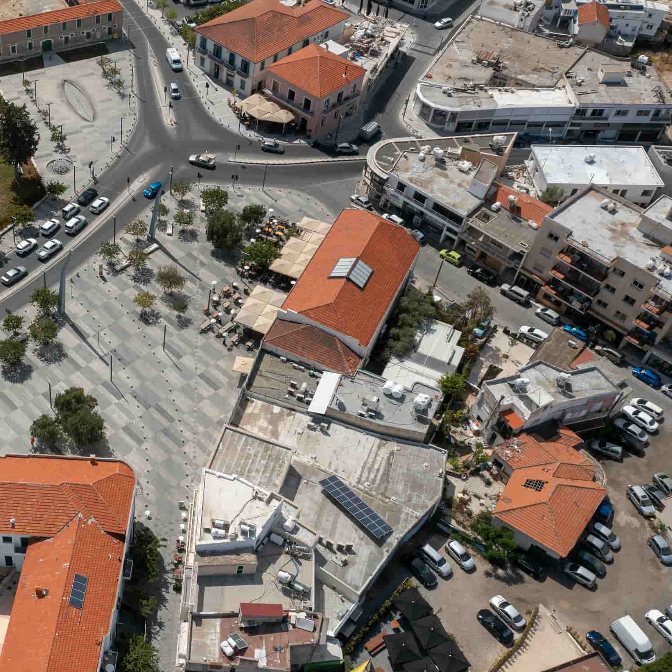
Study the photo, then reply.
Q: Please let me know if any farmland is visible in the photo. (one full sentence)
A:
No, the picture contains no farmland.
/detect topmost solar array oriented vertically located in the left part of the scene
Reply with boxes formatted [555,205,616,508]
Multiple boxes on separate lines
[68,573,88,610]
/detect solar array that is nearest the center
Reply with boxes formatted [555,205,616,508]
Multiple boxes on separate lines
[317,476,393,542]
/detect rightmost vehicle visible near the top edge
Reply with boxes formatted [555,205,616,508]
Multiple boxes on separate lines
[433,13,456,26]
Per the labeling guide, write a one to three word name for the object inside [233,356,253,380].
umbrella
